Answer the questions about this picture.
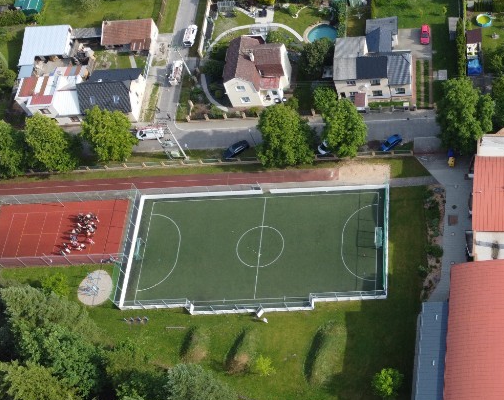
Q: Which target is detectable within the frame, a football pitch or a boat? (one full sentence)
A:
I can see a football pitch in this picture.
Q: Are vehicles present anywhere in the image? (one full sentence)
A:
Yes, looking at the shot, I can spot a vehicle.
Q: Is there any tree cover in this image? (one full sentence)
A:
Yes, tree cover can be seen from above here.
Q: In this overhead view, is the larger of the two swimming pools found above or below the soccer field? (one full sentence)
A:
It's above the soccer field that the larger of the two swimming pools shows up.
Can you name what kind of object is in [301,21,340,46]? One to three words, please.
swimming pool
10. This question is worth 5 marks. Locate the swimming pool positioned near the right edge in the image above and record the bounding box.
[476,13,492,29]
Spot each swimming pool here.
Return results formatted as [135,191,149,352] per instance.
[476,13,492,29]
[301,21,340,46]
